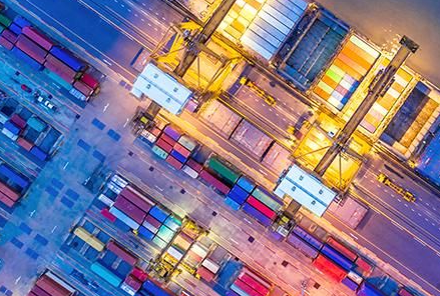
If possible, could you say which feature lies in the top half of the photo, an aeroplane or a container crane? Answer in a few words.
container crane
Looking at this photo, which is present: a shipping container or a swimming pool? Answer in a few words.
shipping container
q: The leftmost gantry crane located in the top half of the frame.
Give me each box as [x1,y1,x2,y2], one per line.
[127,0,259,137]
